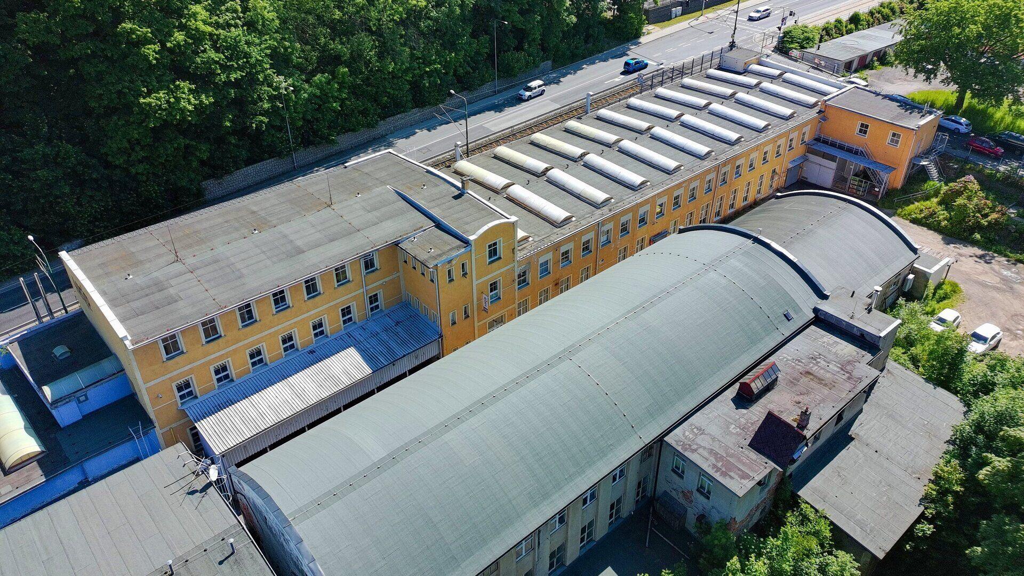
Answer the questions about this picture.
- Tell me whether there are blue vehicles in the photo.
Yes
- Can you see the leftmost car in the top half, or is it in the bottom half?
top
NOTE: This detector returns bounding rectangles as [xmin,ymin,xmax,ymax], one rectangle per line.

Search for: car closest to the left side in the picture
[517,78,548,99]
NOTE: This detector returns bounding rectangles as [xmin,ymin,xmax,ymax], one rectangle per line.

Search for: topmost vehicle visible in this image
[746,4,771,20]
